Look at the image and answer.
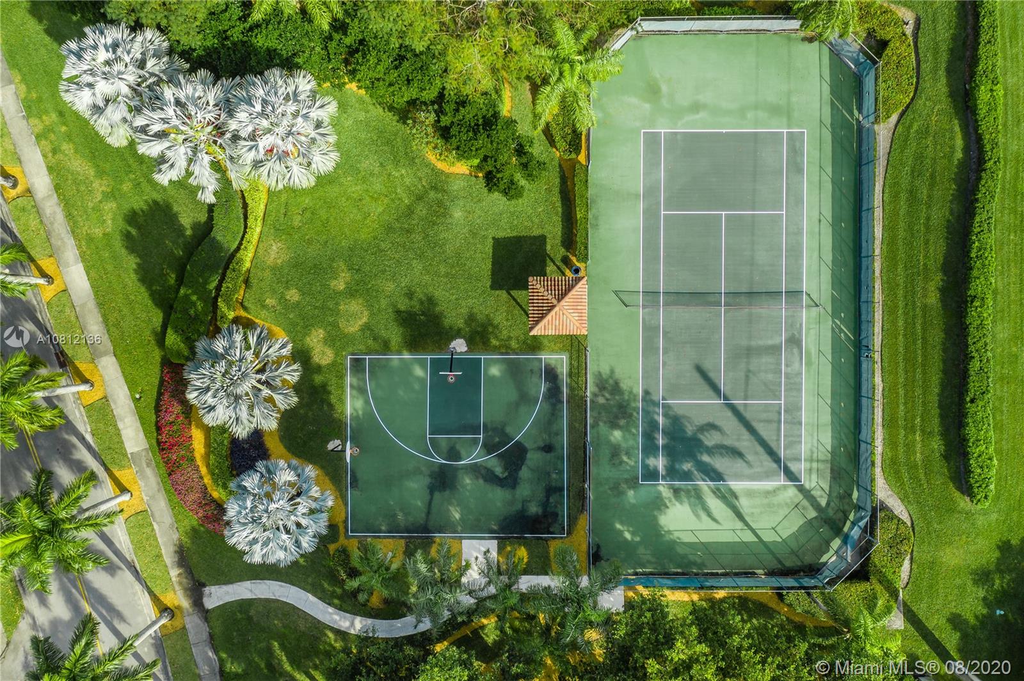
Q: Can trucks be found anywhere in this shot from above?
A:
No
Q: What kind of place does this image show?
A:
sports ground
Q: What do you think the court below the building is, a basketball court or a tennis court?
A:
basketball court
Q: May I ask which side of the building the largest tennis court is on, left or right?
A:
on the right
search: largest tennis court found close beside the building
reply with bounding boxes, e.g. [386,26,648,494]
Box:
[587,33,862,578]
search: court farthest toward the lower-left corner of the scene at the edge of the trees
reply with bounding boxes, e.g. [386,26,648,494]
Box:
[346,352,569,539]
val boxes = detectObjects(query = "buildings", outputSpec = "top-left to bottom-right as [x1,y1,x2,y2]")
[527,275,588,336]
